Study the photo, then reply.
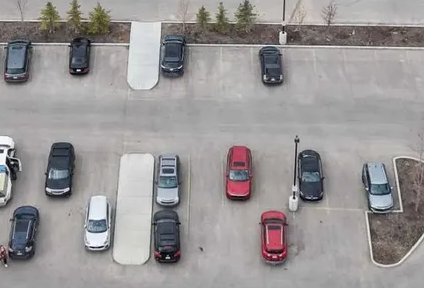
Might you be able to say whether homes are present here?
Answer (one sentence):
No, there isn't any home down there.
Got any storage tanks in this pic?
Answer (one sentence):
No, there's no storage tank here.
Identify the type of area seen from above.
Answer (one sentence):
This image shows a parking lot.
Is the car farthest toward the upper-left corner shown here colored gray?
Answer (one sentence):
Yes, the car farthest toward the upper-left corner is indeed gray.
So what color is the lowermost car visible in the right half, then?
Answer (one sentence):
The lowermost car visible in the right half is red.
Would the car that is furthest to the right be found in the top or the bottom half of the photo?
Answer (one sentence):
Seen from above, the car that is furthest to the right lies in the bottom half of the view.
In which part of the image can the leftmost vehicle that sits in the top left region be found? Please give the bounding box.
[4,42,34,84]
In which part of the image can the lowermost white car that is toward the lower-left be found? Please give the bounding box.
[83,199,113,250]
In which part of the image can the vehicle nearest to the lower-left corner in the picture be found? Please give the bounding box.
[9,209,41,260]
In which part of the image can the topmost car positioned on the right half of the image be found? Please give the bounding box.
[258,48,285,88]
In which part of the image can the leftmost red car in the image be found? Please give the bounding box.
[224,149,254,201]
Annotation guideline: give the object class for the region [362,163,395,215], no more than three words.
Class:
car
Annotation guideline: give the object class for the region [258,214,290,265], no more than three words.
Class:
car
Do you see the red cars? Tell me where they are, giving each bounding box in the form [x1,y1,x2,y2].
[258,214,290,265]
[224,149,254,201]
